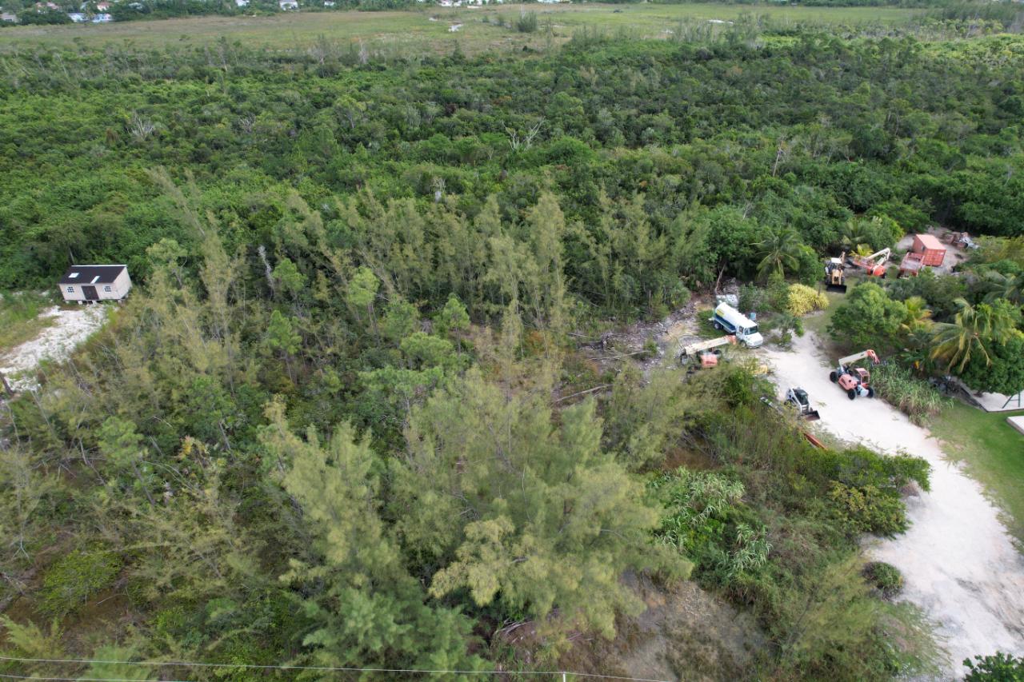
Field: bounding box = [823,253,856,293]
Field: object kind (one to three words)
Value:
work vehicle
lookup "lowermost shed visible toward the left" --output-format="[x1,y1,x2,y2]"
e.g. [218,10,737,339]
[53,260,131,306]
